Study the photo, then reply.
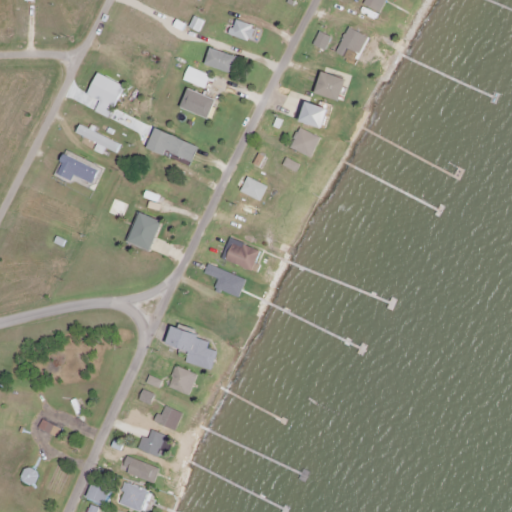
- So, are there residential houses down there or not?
Yes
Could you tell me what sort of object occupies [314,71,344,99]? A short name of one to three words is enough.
house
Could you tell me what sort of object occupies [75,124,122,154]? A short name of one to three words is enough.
house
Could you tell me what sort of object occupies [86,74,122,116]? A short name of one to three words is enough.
building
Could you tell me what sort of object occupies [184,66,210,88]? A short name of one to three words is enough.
building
